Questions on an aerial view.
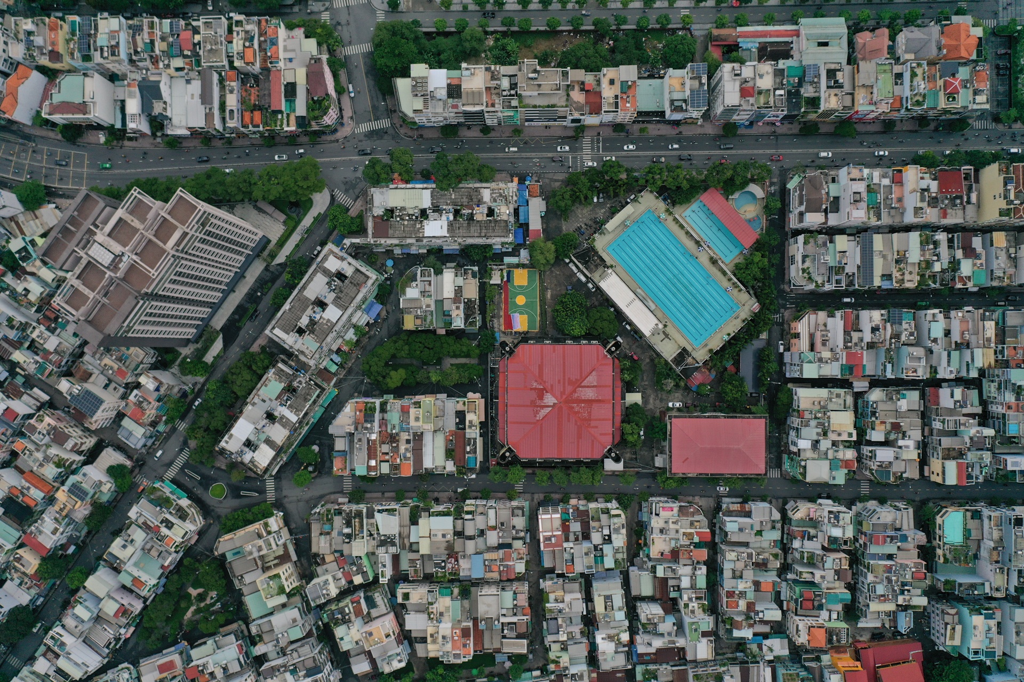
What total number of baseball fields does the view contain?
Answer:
0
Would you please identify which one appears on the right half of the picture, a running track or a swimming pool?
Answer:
swimming pool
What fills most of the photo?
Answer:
buildings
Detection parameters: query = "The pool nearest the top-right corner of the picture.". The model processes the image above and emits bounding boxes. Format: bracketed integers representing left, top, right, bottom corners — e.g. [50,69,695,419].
[717,184,766,233]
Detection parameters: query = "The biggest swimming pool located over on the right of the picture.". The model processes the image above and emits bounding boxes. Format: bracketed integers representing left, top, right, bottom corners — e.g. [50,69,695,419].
[586,187,754,372]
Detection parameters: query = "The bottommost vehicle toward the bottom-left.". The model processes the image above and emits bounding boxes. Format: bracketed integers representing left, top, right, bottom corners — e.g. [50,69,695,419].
[30,621,43,636]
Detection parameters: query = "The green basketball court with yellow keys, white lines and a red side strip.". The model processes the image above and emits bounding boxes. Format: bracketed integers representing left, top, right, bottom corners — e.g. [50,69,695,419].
[504,268,539,331]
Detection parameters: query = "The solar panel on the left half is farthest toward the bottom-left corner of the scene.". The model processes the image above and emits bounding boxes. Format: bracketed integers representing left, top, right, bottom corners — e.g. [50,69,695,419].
[70,482,92,501]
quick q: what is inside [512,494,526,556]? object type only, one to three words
house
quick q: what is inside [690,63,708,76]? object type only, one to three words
solar panel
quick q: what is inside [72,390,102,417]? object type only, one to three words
solar panel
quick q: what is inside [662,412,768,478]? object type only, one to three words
building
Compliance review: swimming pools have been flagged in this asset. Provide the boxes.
[586,187,754,372]
[676,190,760,289]
[717,184,766,233]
